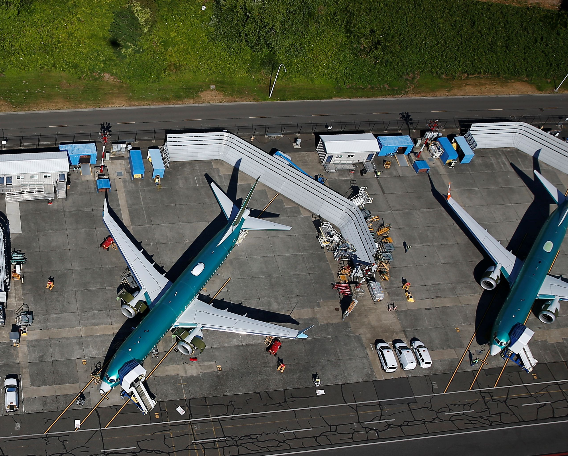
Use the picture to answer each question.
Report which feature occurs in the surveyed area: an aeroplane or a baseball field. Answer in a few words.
aeroplane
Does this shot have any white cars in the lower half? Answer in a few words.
Yes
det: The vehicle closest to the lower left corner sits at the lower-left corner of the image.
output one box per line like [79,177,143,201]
[2,377,19,415]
